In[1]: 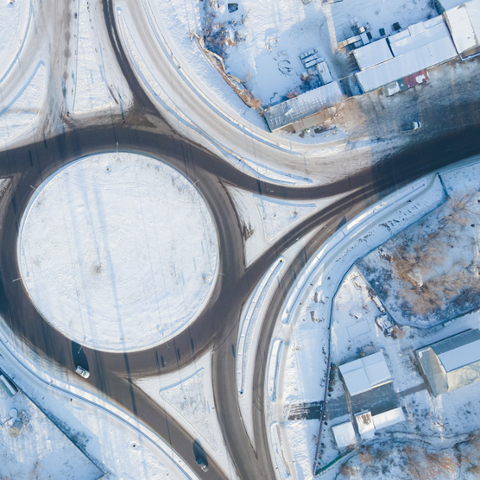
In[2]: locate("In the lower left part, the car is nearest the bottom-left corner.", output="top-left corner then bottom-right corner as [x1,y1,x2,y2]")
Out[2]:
[74,365,89,378]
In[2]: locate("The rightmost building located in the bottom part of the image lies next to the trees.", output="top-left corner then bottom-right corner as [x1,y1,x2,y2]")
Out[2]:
[423,329,480,391]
